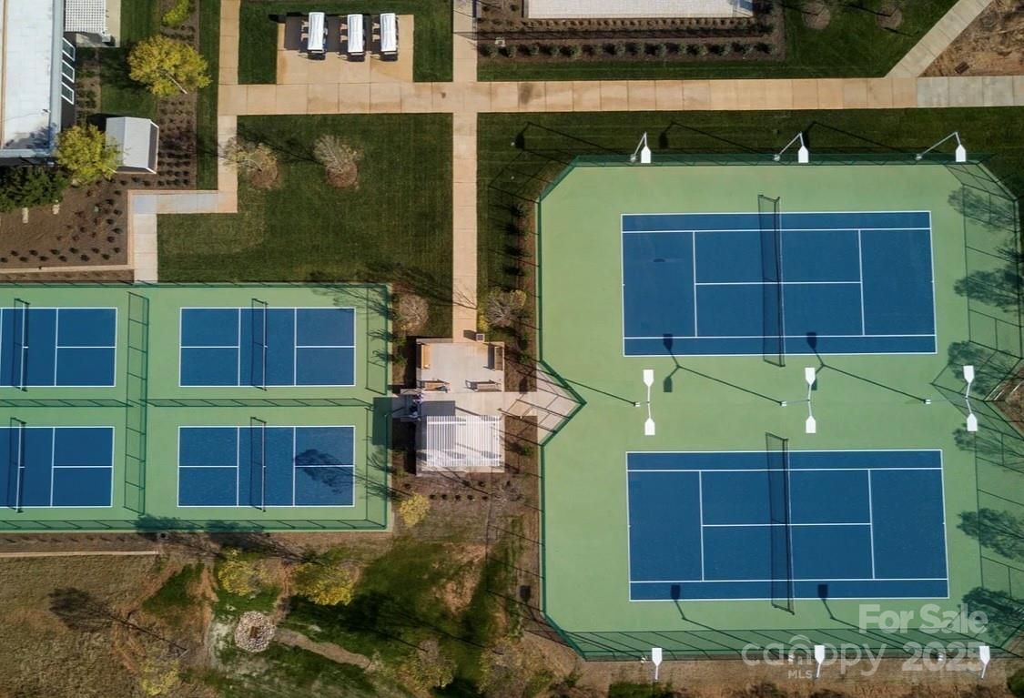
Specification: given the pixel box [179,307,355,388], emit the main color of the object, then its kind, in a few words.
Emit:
blue sports court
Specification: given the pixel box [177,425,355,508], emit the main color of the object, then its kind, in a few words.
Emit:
blue sports court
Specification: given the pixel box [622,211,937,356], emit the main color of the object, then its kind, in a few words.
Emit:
blue tennis court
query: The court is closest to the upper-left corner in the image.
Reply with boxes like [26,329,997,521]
[0,308,117,388]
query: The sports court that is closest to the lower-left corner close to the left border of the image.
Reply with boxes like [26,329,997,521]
[0,426,114,508]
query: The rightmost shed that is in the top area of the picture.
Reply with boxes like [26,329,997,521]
[107,115,159,173]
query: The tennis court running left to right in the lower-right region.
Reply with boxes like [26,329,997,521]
[628,451,948,600]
